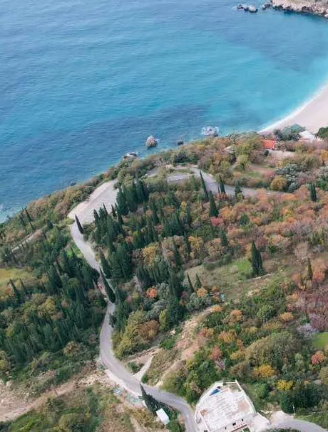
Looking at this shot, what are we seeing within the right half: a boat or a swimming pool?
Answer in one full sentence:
Visible within the right half is a swimming pool.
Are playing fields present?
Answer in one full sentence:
No, the frame has no playing field in it.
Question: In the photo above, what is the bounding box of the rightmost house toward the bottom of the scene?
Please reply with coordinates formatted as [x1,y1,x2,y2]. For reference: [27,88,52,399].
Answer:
[199,388,255,432]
